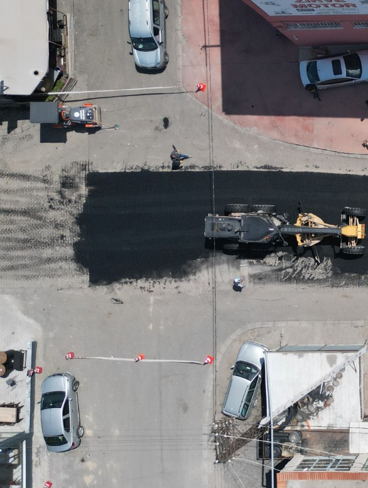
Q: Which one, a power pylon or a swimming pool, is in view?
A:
power pylon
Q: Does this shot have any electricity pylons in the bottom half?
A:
Yes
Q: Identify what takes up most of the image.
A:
paved ground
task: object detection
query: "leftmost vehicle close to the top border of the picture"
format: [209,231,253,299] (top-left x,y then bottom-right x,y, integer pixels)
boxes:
[128,0,173,76]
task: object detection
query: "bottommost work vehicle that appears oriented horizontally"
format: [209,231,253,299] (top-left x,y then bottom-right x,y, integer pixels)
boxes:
[204,203,367,263]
